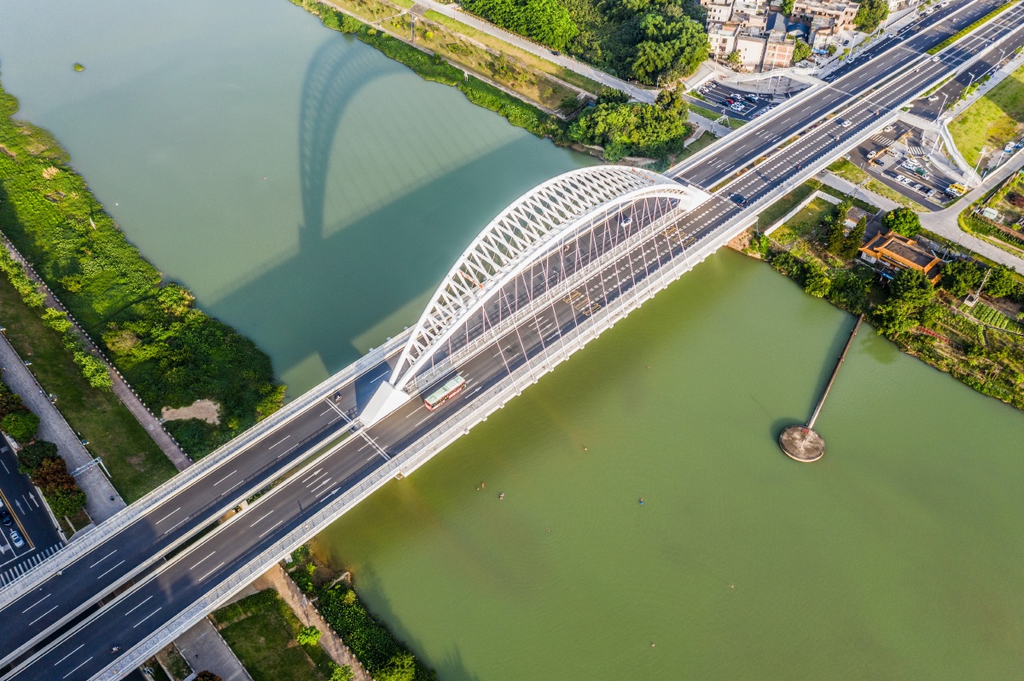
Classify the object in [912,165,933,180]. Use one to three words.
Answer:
vehicle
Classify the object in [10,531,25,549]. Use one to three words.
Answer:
car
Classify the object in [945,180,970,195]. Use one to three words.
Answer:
vehicle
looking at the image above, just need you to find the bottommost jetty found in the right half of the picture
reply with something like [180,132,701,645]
[779,312,866,464]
